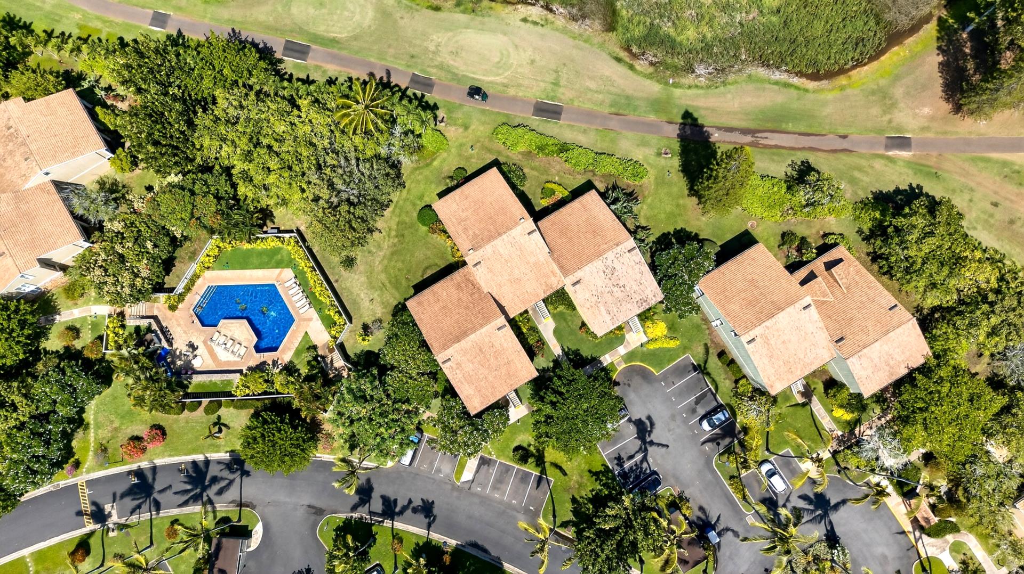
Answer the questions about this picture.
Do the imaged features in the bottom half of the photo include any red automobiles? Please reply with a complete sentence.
No, there's no red automobile to be seen in the bottom half of the photo.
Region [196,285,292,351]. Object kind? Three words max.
swimming pool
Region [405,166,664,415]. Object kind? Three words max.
house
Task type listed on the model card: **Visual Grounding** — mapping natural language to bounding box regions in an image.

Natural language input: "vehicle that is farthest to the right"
[753,453,789,499]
